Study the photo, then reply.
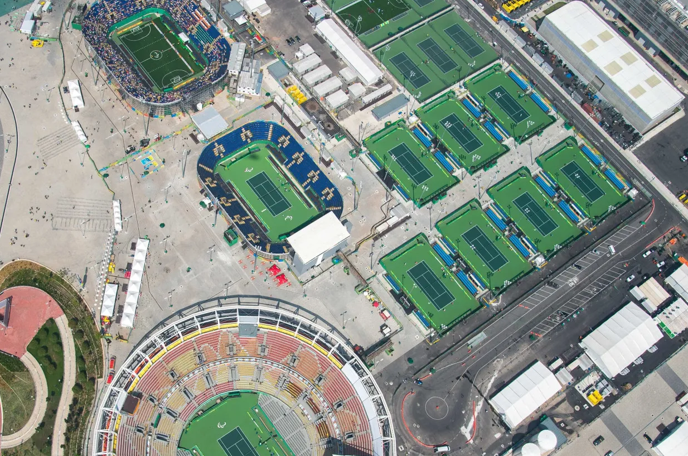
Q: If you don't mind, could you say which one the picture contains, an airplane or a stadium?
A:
stadium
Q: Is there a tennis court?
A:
Yes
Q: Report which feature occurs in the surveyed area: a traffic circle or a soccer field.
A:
soccer field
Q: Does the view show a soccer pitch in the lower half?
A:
No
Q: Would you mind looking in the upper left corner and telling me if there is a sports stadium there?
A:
Yes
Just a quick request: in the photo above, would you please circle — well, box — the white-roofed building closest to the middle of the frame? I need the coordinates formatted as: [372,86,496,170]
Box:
[284,212,350,274]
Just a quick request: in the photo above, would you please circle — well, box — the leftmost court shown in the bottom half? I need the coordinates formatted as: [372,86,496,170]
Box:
[381,234,484,337]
